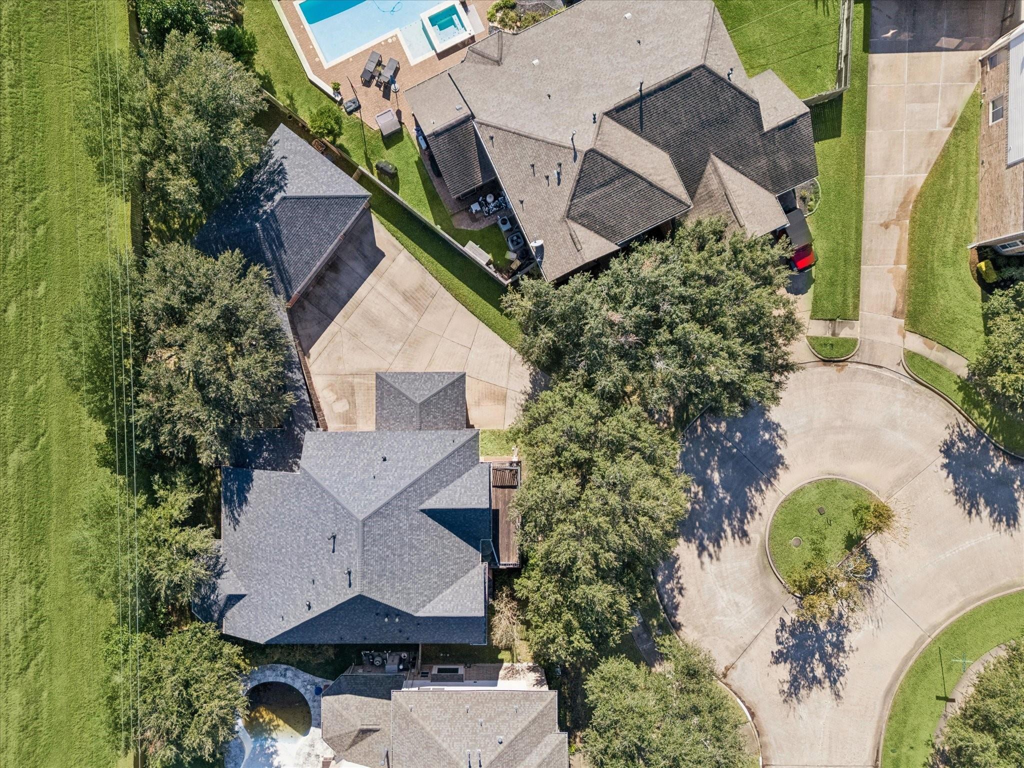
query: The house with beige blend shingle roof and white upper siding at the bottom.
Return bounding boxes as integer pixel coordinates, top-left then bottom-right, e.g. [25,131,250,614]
[319,660,570,768]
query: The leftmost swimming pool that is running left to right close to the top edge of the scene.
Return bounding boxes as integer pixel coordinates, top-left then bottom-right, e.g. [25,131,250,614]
[293,0,441,69]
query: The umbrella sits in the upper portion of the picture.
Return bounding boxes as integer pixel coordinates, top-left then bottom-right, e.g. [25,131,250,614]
[387,71,399,92]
